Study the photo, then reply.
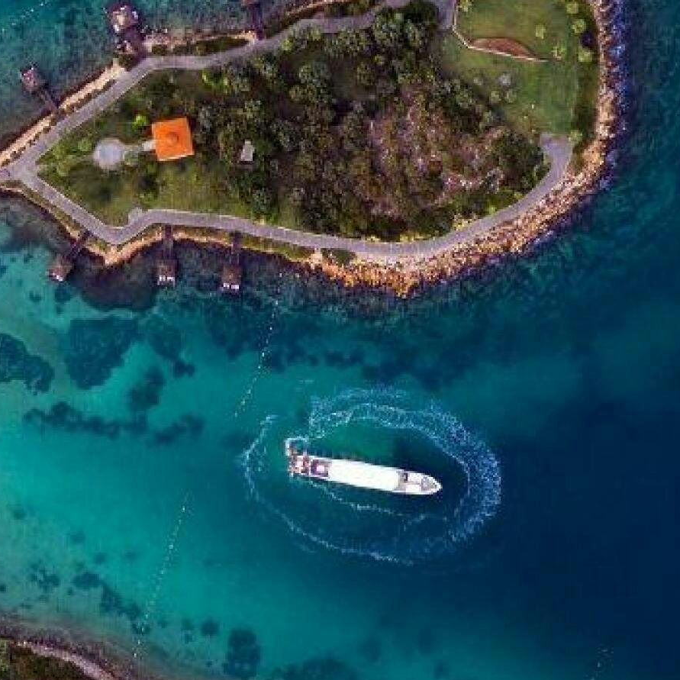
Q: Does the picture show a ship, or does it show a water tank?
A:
ship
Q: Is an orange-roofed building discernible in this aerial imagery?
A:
Yes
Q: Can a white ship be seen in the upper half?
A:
No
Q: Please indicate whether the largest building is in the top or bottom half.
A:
top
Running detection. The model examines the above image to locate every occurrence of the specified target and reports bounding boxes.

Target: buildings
[240,143,252,163]
[149,117,194,163]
